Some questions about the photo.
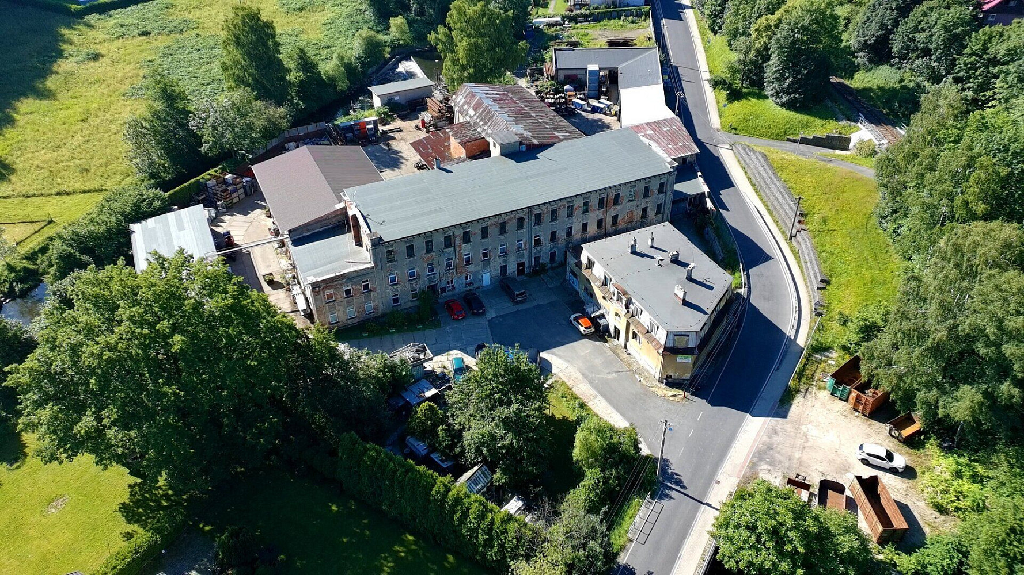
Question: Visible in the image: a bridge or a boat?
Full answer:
The image shows a bridge.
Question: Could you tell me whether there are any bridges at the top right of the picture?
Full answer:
Yes, I can see a bridge at the top right of the picture.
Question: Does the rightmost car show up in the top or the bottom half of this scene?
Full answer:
It is in the bottom half that the rightmost car appears.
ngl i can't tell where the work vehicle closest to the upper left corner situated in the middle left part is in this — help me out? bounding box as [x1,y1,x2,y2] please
[221,228,235,247]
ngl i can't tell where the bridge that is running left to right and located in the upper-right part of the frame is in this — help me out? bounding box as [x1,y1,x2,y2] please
[826,106,908,142]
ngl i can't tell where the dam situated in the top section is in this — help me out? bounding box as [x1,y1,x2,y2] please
[392,56,434,82]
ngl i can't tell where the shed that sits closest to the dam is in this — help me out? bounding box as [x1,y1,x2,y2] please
[368,77,435,110]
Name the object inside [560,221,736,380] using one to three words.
house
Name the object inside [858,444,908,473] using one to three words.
car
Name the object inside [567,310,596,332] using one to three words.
car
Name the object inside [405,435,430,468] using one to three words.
shed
